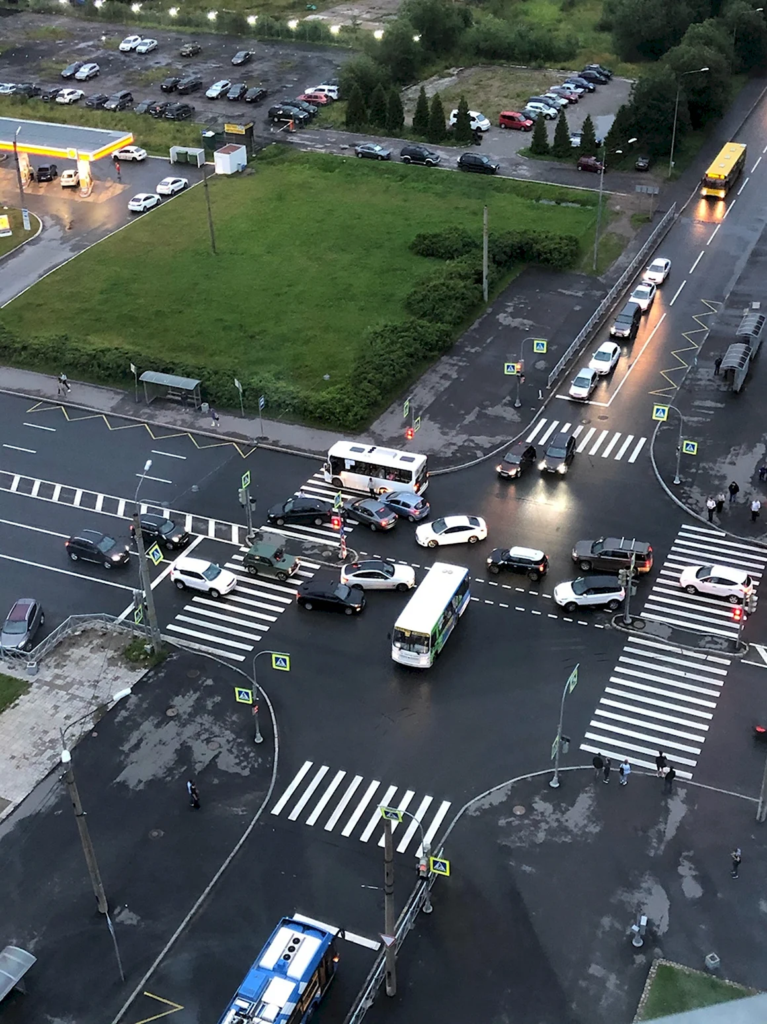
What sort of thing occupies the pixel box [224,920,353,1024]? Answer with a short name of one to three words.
bus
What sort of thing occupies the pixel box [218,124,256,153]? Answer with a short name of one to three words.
shed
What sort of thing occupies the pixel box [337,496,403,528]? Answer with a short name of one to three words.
car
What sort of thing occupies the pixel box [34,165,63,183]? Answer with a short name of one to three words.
vehicle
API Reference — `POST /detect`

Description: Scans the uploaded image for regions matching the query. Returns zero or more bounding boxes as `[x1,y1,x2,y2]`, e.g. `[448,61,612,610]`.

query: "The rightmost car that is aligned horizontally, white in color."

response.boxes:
[680,564,755,602]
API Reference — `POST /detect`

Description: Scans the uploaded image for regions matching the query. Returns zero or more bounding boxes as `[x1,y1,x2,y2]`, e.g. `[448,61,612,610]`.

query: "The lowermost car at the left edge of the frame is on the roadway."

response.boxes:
[0,592,45,650]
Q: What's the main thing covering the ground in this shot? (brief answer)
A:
paved ground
